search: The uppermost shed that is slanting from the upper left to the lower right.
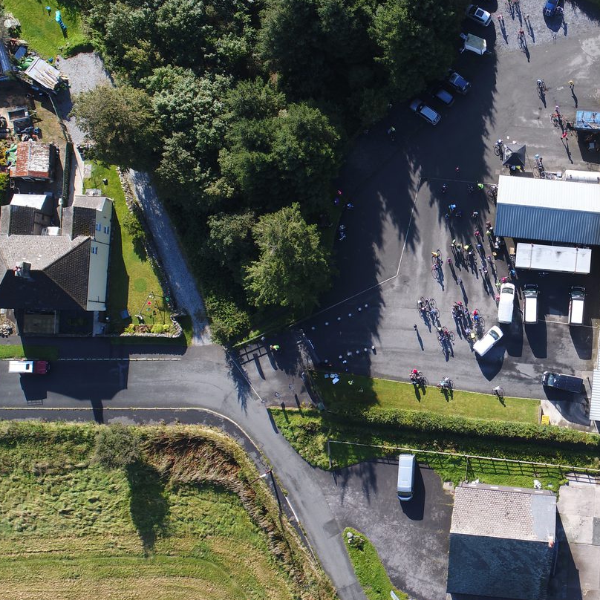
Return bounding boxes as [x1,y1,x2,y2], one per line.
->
[24,58,72,94]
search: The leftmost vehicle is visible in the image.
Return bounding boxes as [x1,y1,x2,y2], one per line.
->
[7,359,53,375]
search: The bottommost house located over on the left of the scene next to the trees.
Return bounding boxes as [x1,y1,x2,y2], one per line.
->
[0,194,114,316]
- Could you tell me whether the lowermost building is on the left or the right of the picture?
right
